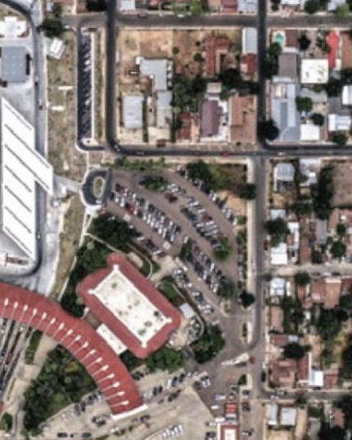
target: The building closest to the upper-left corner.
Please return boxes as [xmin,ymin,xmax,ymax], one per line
[0,17,27,37]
